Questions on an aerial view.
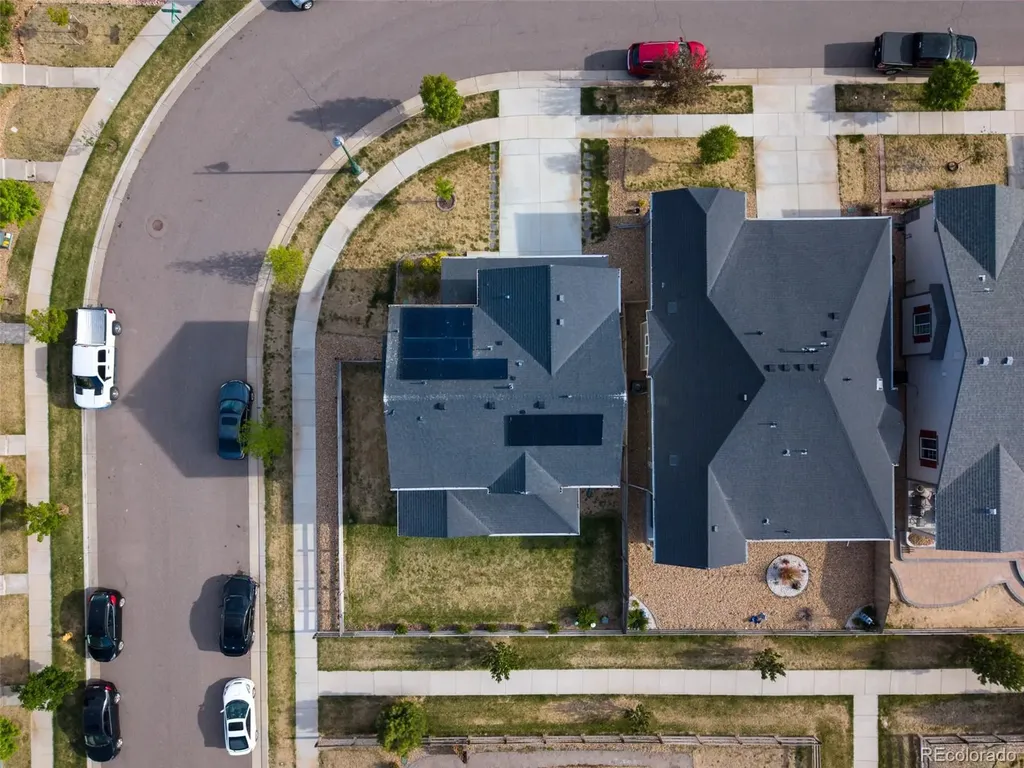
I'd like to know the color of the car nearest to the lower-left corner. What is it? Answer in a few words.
black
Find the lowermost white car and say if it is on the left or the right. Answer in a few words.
left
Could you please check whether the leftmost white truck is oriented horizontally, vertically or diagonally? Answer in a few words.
vertically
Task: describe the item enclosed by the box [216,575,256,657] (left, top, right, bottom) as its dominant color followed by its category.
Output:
black car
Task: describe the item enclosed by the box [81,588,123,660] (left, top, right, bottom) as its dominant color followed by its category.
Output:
black car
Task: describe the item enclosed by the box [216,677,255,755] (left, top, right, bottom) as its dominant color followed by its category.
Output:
white car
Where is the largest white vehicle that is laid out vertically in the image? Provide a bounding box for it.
[72,306,120,409]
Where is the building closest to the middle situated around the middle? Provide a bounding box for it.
[385,256,625,539]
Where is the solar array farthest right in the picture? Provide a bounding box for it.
[508,415,603,447]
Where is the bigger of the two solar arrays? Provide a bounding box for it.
[399,307,508,379]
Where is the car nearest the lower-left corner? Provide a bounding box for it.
[79,681,122,759]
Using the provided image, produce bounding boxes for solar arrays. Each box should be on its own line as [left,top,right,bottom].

[399,307,508,379]
[508,415,603,447]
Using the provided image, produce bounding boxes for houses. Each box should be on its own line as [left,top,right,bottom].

[641,187,904,570]
[903,183,1024,552]
[385,256,625,539]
